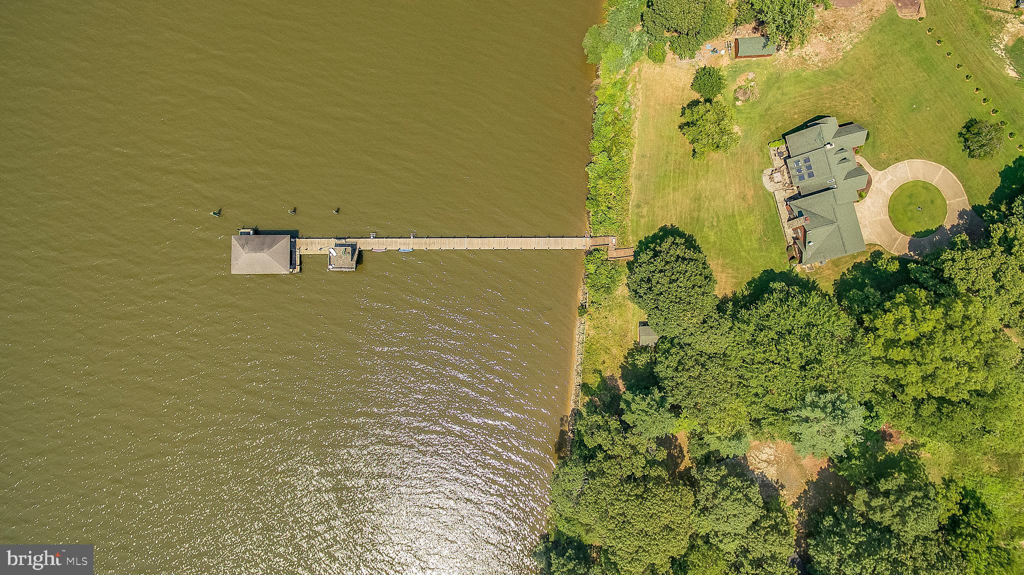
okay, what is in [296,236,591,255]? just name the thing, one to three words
pier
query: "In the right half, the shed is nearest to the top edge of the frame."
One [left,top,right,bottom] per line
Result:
[735,36,776,59]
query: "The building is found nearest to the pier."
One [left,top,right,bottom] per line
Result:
[231,228,300,274]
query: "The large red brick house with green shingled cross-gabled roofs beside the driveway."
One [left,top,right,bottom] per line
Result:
[780,117,869,266]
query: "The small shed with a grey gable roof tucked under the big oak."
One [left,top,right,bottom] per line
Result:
[637,326,661,345]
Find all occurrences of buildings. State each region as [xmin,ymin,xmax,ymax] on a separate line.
[231,228,300,274]
[637,326,661,345]
[735,36,776,59]
[780,117,869,266]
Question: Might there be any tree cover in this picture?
Yes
